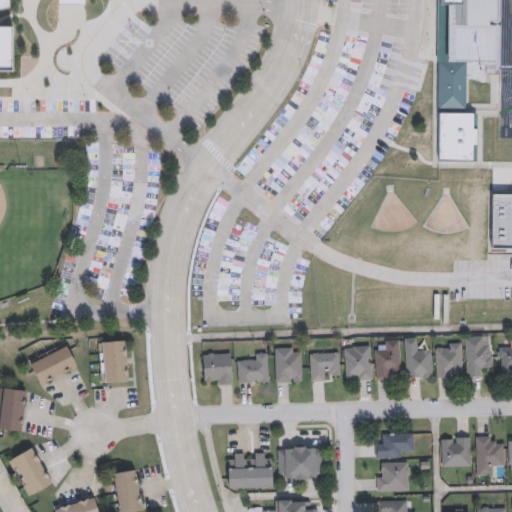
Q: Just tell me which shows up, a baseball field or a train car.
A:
baseball field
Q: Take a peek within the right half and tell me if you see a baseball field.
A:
Yes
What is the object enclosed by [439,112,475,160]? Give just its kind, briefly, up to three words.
building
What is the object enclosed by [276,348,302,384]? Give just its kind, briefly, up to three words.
house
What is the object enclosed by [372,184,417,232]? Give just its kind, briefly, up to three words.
baseball field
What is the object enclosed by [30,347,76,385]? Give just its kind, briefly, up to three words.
building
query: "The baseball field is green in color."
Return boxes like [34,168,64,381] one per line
[0,156,72,300]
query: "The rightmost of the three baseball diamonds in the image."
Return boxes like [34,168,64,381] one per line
[424,187,470,234]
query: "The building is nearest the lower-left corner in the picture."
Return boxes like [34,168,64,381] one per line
[8,450,52,498]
